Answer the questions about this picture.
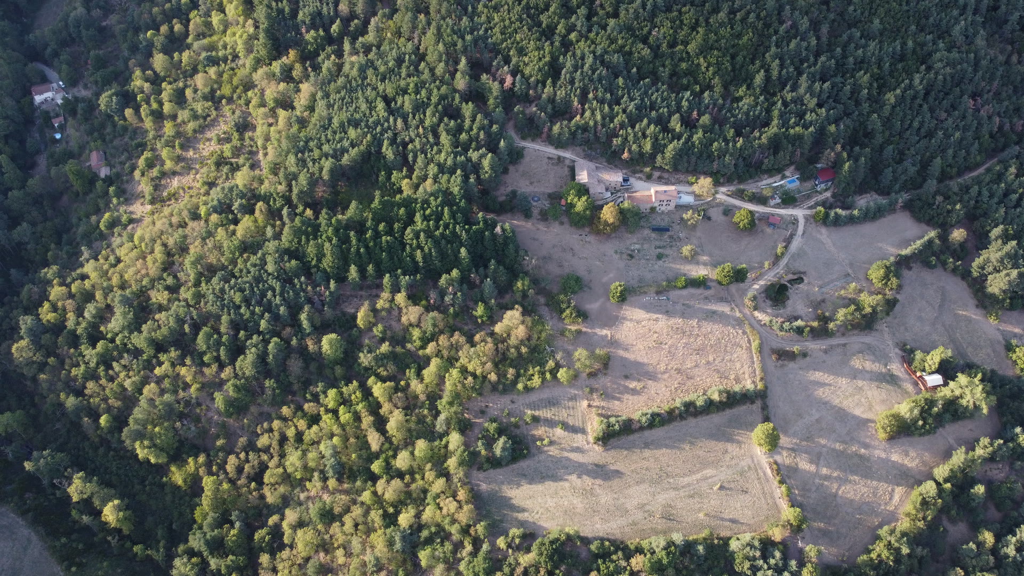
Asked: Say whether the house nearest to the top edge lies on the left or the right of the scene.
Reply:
left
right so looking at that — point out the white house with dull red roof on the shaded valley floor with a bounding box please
[32,88,66,111]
